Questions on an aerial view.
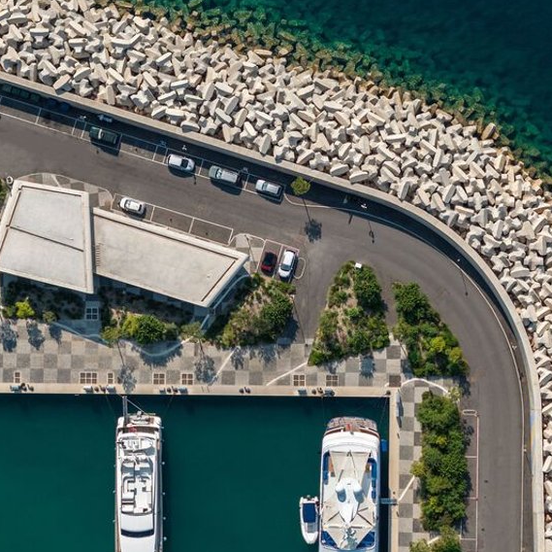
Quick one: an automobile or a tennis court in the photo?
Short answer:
automobile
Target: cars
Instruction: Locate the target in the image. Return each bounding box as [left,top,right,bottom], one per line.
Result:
[117,198,146,214]
[254,178,283,195]
[87,126,119,145]
[165,153,194,171]
[279,248,296,279]
[208,164,239,183]
[261,250,277,274]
